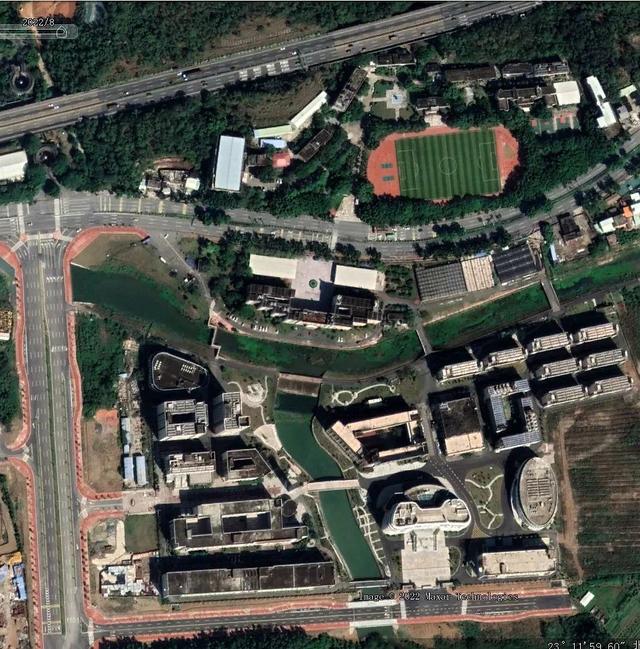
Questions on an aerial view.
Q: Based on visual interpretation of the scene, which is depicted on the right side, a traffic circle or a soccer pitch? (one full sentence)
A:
Looking on the right side, you will find a soccer pitch.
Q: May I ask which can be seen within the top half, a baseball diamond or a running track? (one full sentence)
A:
You can see a running track within the top half.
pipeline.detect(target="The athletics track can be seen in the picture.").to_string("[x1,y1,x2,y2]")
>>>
[367,125,519,202]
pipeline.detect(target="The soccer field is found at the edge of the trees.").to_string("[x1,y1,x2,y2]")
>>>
[395,131,500,195]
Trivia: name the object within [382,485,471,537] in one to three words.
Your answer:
building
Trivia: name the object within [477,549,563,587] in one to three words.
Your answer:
building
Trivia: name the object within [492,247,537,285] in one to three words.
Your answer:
shed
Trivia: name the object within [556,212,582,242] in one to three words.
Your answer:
house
